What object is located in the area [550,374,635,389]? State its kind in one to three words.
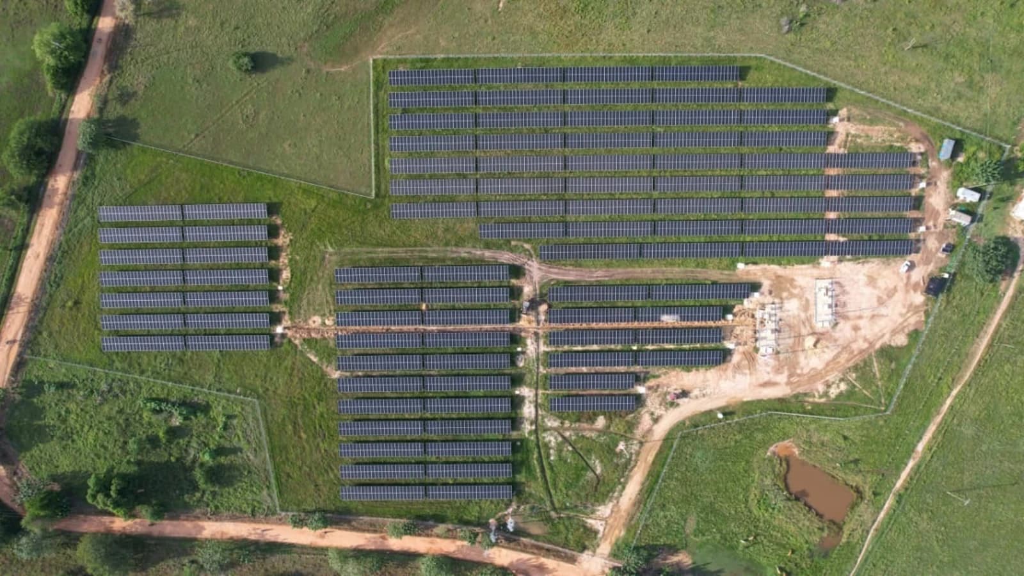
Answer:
solar array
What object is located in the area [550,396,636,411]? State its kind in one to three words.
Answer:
solar array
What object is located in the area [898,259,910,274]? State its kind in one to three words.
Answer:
vehicle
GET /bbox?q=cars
[941,242,952,255]
[941,272,949,286]
[898,259,910,274]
